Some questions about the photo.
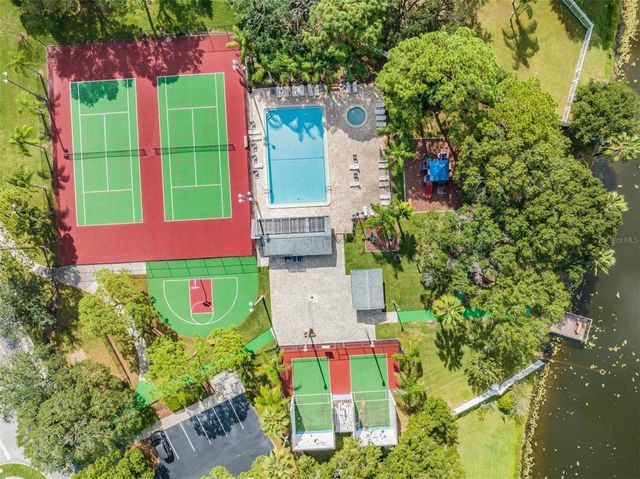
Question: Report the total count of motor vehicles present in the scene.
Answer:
1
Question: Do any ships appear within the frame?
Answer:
No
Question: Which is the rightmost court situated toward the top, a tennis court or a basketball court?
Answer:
tennis court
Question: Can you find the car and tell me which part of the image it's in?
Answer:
bottom left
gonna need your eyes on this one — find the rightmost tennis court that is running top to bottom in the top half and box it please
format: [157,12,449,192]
[150,34,254,262]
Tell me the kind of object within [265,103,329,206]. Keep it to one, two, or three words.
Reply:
swimming pool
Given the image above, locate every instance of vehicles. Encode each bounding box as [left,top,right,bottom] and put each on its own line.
[151,434,171,465]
